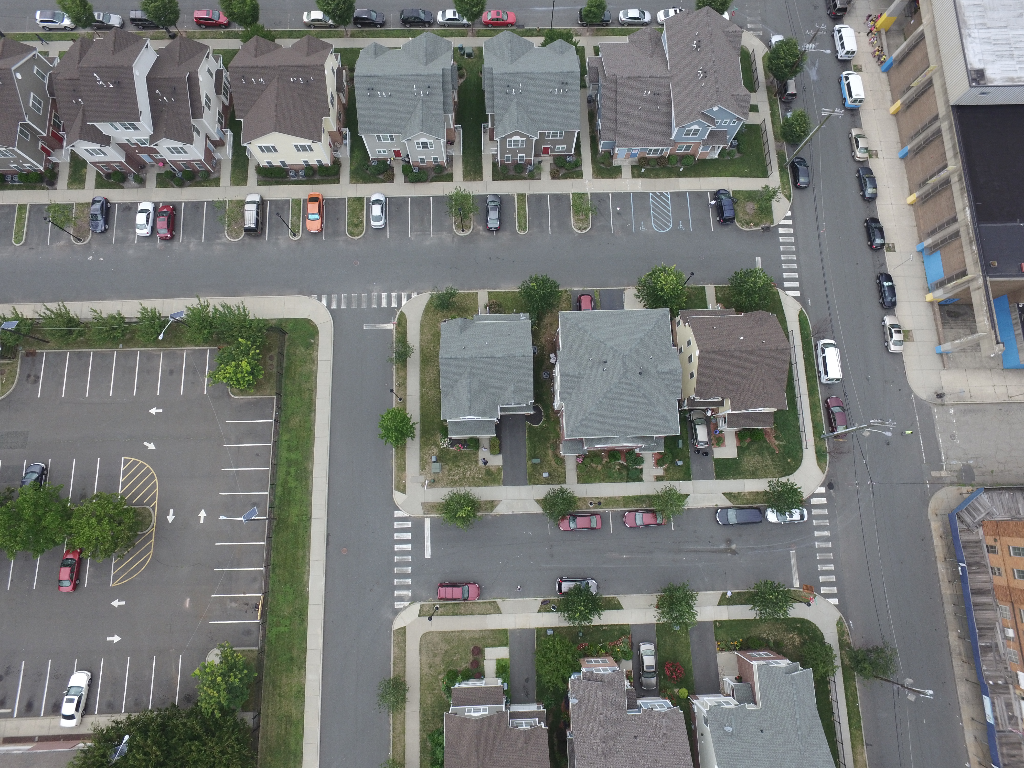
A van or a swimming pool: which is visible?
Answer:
van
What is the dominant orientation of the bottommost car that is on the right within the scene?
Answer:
from top to bottom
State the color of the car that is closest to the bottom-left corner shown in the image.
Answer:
white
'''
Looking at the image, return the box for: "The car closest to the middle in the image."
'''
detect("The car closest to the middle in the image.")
[577,291,593,311]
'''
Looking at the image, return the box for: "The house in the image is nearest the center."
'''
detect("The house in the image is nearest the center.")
[439,311,534,438]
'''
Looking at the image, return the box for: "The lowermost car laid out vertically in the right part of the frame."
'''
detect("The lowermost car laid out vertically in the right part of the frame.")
[638,642,660,690]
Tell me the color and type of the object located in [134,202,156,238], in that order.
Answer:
white car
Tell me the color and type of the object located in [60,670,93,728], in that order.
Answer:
white car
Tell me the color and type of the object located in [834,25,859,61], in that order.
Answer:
white vehicle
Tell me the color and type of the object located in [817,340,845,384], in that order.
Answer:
white van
